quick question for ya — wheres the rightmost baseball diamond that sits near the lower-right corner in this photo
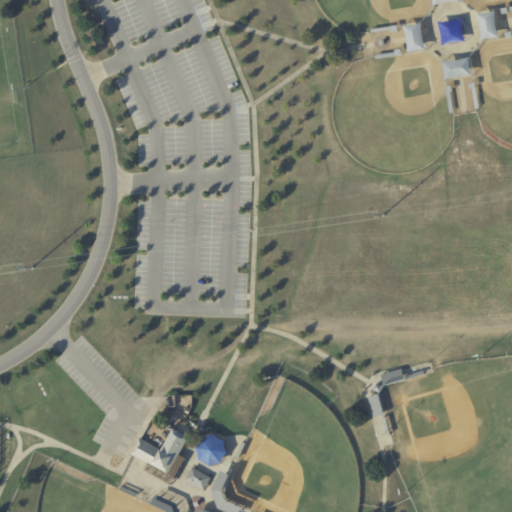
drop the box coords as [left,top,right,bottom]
[388,356,512,512]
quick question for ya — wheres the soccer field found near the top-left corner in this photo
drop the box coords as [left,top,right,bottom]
[0,0,33,158]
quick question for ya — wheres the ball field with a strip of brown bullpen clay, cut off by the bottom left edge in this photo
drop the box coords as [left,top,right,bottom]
[38,462,164,512]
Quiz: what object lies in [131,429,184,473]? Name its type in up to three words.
building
